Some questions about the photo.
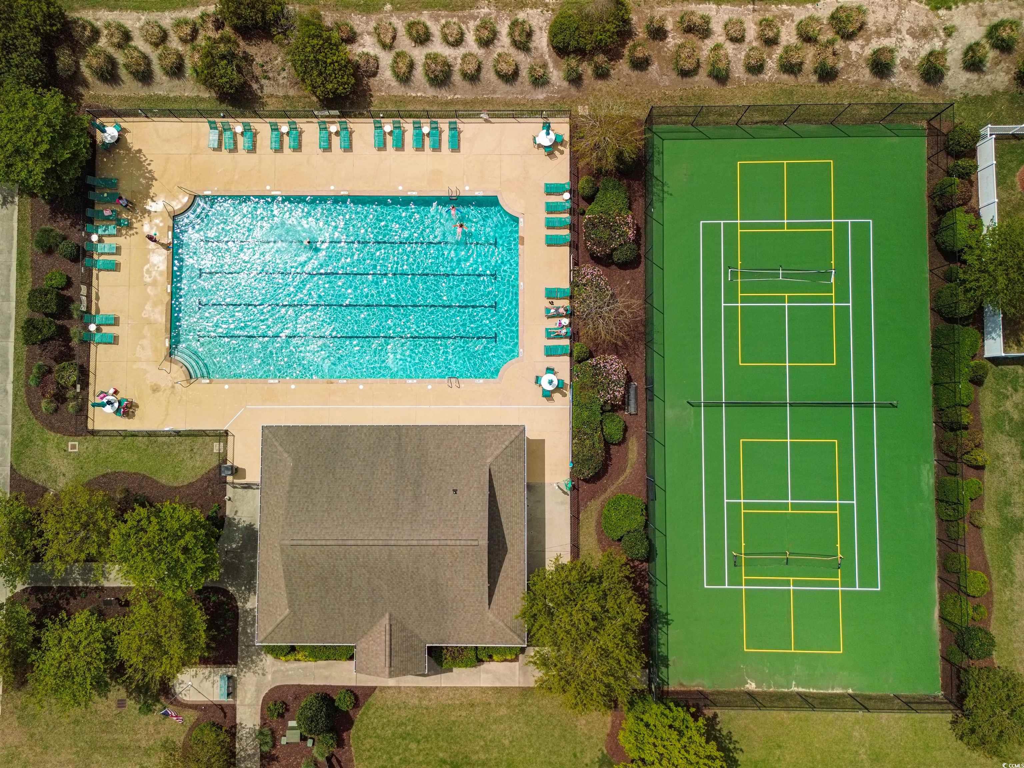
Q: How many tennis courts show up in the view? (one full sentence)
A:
I count just 1 tennis court.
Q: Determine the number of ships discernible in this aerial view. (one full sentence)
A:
The picture shows no ships.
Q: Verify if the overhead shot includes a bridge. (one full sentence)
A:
No, no bridge can be seen from above.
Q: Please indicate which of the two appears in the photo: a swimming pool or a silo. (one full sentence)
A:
Looking from above, you can make out a swimming pool.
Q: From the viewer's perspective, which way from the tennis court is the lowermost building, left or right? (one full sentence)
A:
From the viewer's perspective, the lowermost building falls to the left of the tennis court.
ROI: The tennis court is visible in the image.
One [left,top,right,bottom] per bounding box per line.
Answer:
[645,123,941,694]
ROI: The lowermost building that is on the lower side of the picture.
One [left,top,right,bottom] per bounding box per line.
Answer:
[254,422,528,680]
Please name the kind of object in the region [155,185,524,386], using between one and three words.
swimming pool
